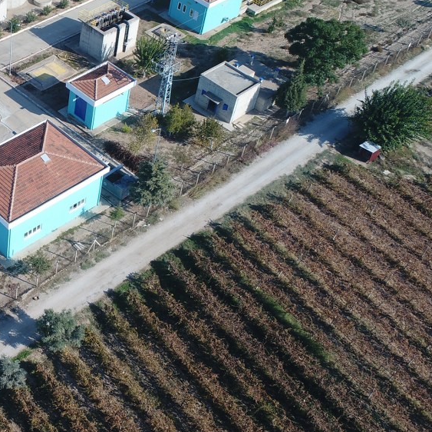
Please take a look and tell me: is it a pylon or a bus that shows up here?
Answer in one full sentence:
It is a pylon that can be seen here.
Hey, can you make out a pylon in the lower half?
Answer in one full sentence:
No, I see no pylon in the lower half.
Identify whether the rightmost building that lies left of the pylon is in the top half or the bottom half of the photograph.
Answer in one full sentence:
You can find the rightmost building that lies left of the pylon in the top half.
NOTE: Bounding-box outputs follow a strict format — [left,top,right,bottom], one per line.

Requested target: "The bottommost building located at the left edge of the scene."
[0,120,110,258]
